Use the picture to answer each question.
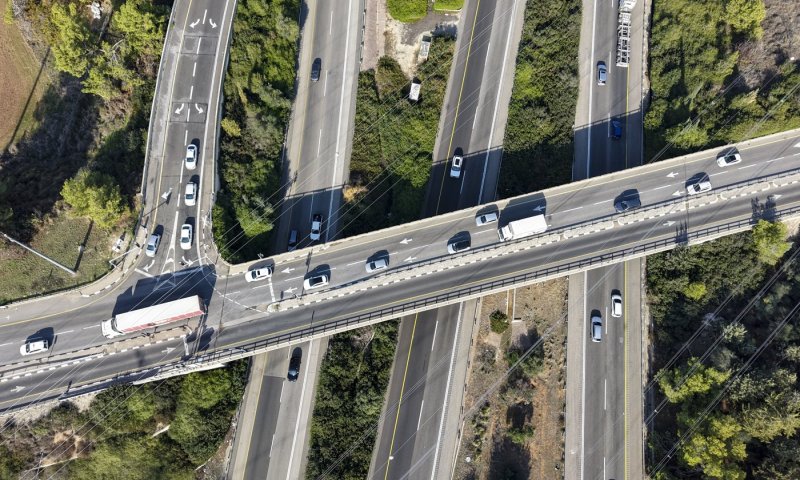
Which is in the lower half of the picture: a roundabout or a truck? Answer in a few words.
truck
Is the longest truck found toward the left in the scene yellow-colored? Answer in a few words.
No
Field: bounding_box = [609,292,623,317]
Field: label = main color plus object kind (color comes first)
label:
white vehicle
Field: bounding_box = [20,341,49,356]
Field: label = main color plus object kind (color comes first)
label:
white car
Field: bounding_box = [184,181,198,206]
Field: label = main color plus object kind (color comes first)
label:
white car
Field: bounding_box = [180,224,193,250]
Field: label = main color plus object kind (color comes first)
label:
white vehicle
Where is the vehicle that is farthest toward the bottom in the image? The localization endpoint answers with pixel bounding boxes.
[288,356,301,382]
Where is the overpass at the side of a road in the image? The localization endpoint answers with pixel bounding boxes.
[209,127,800,363]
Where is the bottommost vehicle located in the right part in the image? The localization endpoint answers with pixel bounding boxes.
[591,317,603,343]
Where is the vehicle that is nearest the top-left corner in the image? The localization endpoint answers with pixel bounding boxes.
[184,144,198,170]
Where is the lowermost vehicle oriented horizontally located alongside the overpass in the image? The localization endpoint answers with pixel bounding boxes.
[101,299,208,339]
